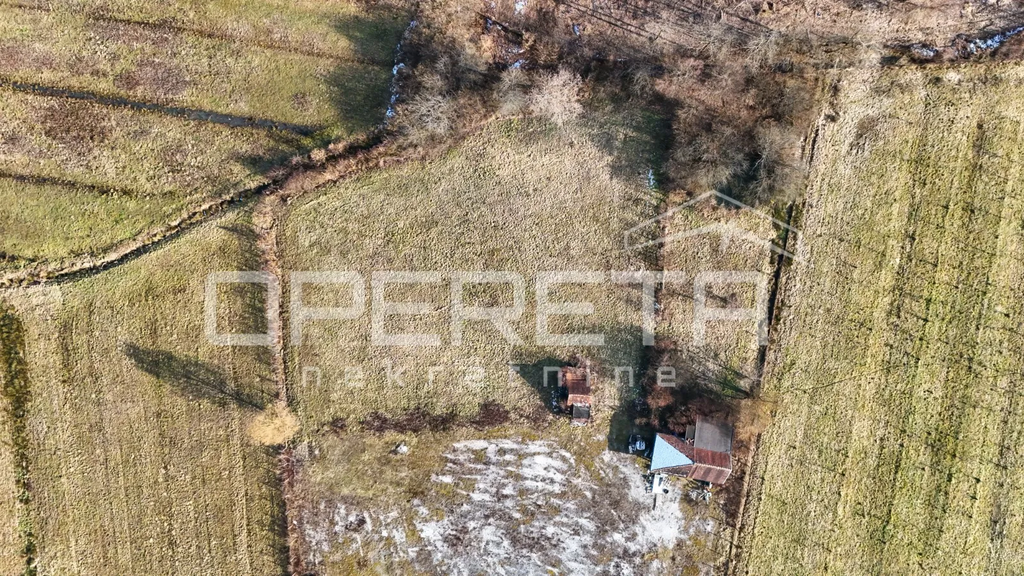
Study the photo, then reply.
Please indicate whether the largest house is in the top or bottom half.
bottom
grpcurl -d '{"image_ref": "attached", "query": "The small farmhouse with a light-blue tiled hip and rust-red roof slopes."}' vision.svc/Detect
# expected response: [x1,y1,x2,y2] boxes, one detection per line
[650,414,734,485]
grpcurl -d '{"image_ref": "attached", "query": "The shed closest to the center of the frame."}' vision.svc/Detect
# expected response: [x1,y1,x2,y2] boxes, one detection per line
[566,366,592,406]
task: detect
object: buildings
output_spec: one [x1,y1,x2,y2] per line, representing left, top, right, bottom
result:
[650,414,734,485]
[566,366,592,406]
